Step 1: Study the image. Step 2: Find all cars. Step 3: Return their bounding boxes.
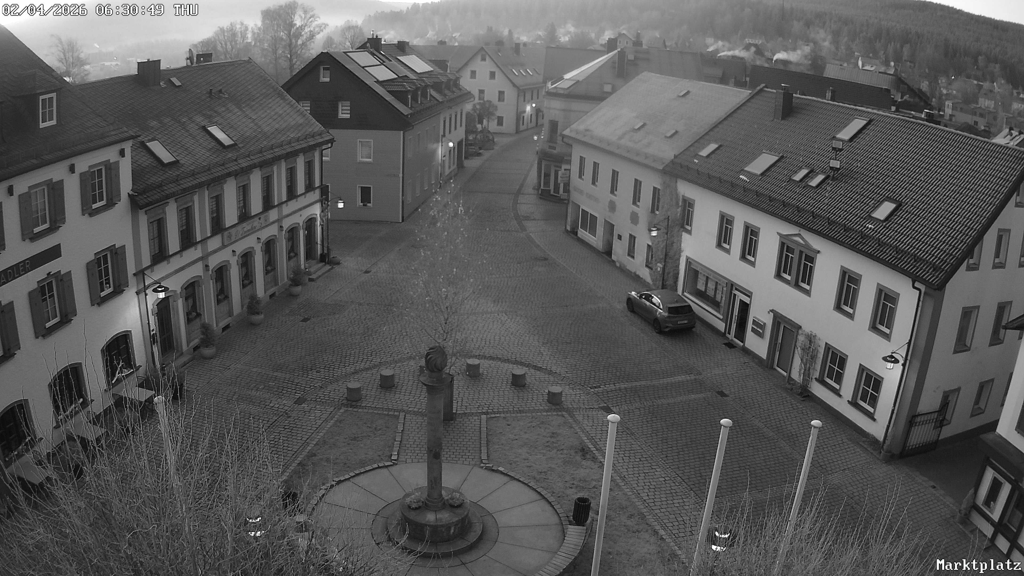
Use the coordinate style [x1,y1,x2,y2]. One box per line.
[626,290,695,333]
